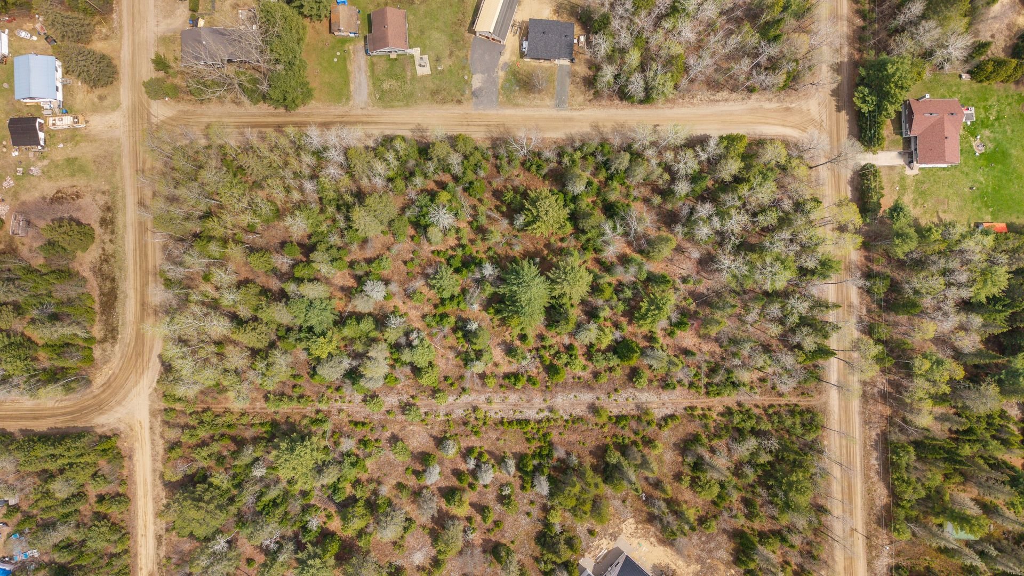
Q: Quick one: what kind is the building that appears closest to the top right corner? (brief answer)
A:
house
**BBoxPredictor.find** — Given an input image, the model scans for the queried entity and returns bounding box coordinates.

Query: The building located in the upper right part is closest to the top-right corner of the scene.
[900,95,965,166]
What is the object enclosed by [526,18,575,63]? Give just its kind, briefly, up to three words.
house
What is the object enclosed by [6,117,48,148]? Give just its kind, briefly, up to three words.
building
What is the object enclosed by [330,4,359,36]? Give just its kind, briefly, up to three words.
shed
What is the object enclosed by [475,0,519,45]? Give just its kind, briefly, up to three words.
barn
